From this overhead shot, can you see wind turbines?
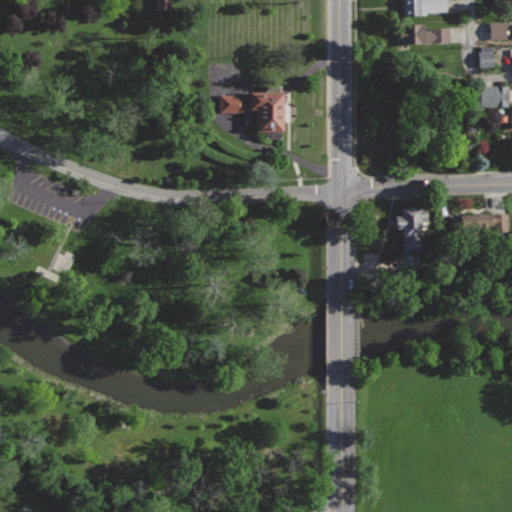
No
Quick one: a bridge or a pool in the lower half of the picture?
bridge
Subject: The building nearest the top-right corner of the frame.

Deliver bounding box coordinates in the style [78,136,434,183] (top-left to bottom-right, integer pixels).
[490,22,512,40]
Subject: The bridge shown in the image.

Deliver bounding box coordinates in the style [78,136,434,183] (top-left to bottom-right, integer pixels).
[326,309,361,387]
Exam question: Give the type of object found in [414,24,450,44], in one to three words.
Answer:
house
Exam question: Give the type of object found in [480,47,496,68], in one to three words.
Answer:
house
